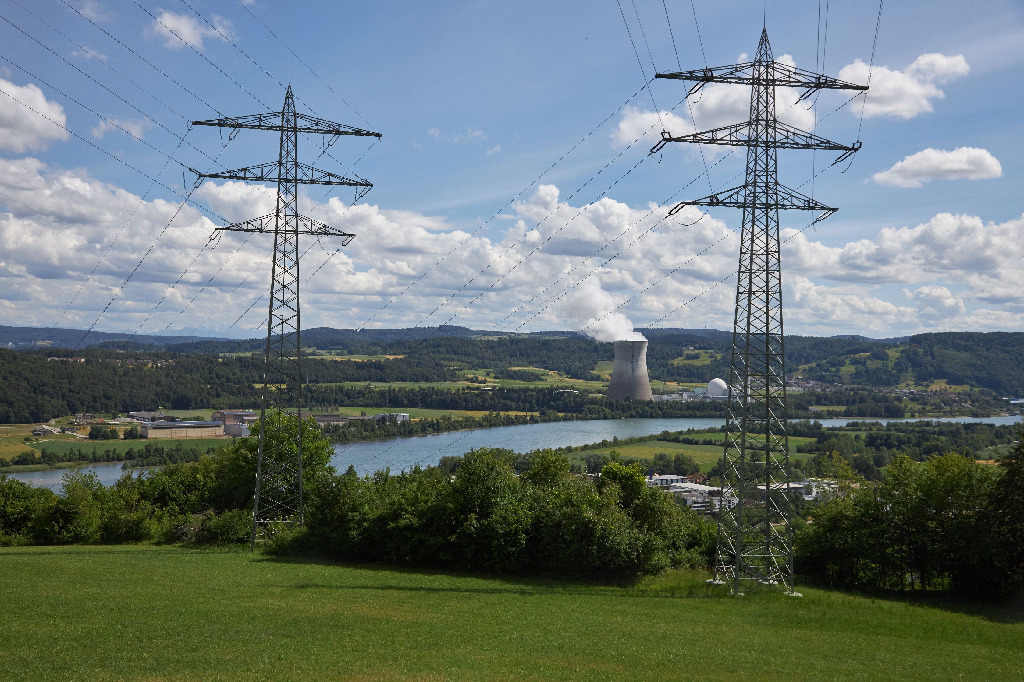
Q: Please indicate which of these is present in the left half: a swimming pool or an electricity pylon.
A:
electricity pylon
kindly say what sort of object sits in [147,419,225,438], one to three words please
building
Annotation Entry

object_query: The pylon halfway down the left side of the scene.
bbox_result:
[173,55,381,545]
